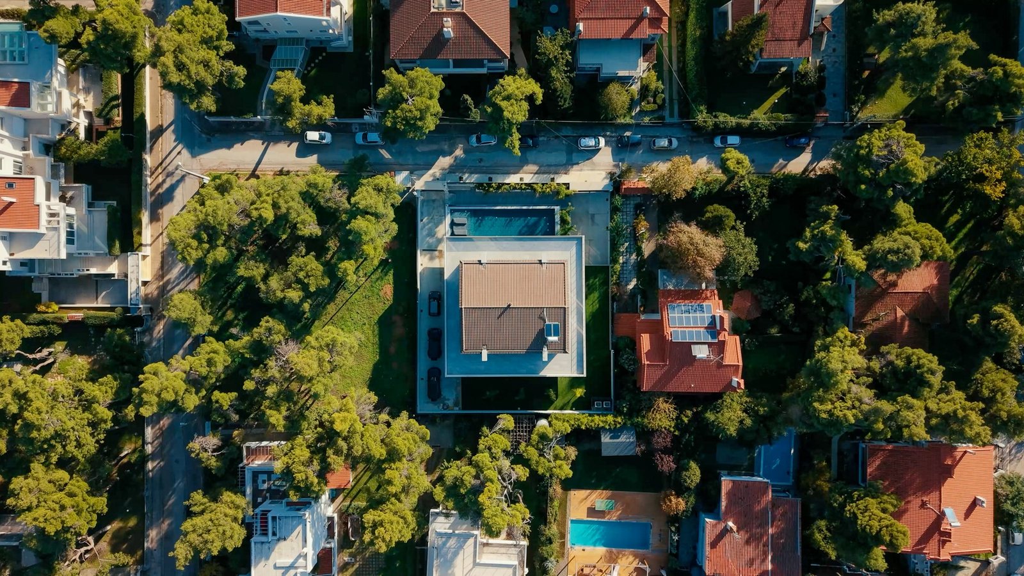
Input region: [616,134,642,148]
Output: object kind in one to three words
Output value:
car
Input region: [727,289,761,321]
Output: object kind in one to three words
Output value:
gazebo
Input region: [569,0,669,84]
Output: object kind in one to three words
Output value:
house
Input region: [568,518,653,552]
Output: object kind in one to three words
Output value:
swimming pool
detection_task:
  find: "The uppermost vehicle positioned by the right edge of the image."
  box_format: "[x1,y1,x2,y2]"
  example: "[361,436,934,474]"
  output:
[1006,520,1023,548]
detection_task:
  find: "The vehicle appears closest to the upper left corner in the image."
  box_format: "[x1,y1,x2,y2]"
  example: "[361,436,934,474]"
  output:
[305,130,332,145]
